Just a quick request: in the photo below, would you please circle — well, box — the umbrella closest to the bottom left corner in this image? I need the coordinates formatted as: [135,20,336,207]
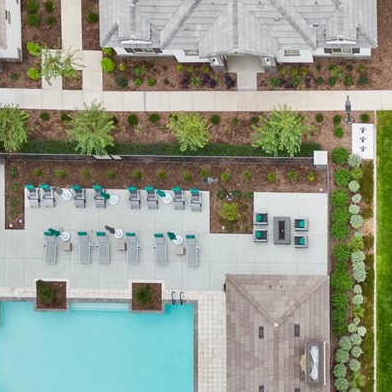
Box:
[48,226,70,241]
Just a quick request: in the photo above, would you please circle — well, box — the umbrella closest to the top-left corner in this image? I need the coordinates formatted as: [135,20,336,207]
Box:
[50,182,70,200]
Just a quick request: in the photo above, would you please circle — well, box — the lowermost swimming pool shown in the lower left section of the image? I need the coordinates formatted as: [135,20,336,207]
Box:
[0,291,198,392]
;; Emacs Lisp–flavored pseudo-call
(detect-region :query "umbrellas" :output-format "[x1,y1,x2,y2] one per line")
[106,224,124,239]
[169,230,183,245]
[157,186,170,203]
[50,182,70,200]
[100,188,118,205]
[48,226,70,241]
